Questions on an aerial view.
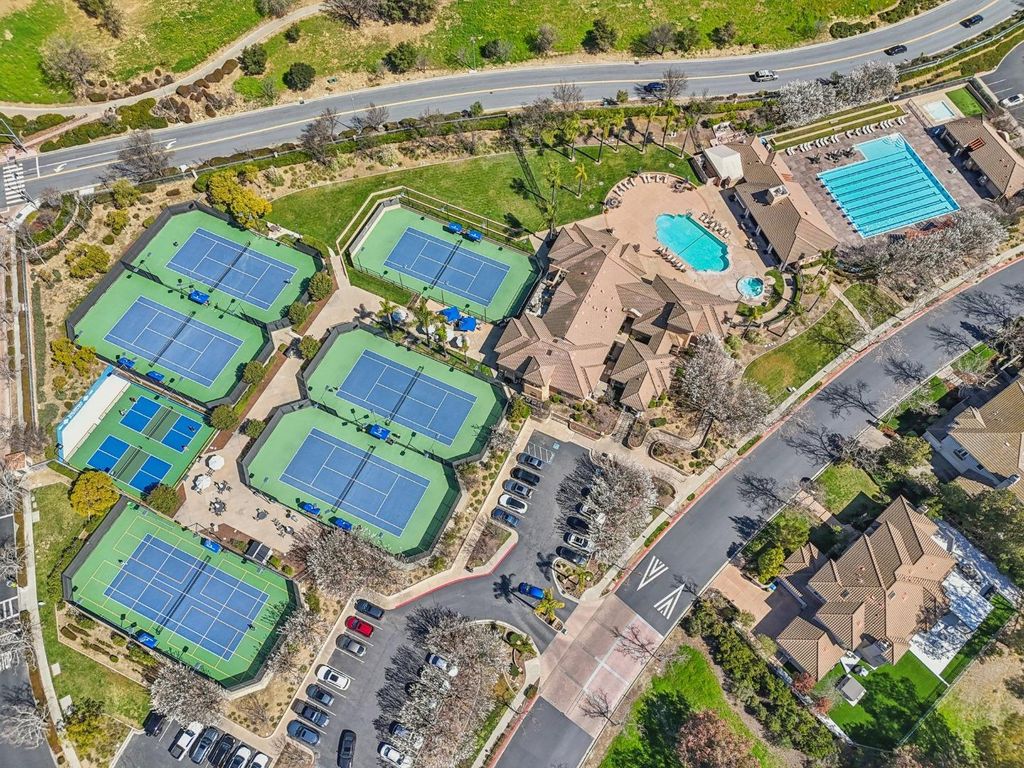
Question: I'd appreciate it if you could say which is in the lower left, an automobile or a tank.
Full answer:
Looking in the lower left, you will find an automobile.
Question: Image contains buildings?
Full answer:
Yes, the frame does contain a building.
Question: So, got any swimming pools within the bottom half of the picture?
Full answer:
No, looking within the bottom half of the picture, there is no swimming pool.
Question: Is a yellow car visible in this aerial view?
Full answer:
No, the frame has no yellow car in it.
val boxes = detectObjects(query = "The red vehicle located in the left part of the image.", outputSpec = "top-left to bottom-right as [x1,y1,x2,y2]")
[341,614,377,639]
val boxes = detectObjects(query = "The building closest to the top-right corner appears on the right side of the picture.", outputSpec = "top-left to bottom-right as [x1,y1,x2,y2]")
[941,105,1024,198]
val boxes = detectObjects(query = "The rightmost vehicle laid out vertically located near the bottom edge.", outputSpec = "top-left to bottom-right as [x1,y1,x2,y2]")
[339,731,356,767]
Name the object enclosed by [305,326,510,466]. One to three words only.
tennis court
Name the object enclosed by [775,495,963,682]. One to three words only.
house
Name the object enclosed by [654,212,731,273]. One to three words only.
swimming pool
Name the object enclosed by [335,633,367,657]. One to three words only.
car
